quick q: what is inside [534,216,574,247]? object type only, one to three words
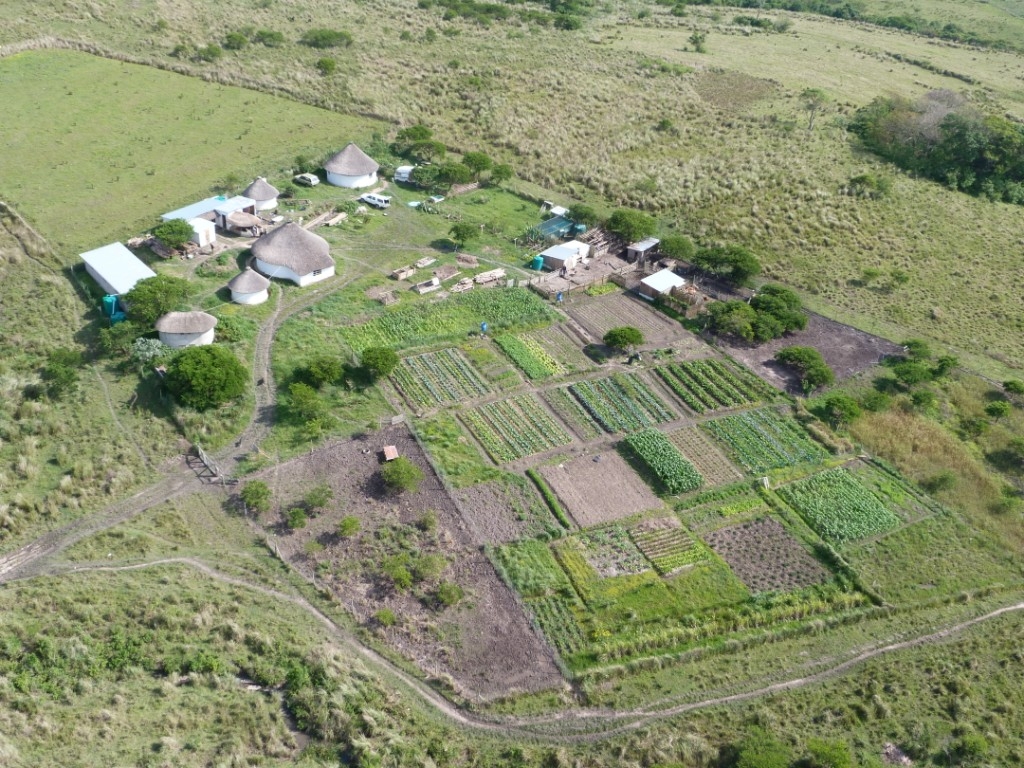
house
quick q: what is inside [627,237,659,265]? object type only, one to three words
shed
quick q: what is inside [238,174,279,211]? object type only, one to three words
shed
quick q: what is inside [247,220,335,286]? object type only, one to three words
house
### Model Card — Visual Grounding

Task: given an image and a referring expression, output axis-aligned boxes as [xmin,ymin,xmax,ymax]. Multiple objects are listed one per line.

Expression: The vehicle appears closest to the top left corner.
[292,172,320,187]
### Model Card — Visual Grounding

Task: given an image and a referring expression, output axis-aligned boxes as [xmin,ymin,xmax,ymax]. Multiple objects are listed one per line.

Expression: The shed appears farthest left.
[79,241,159,310]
